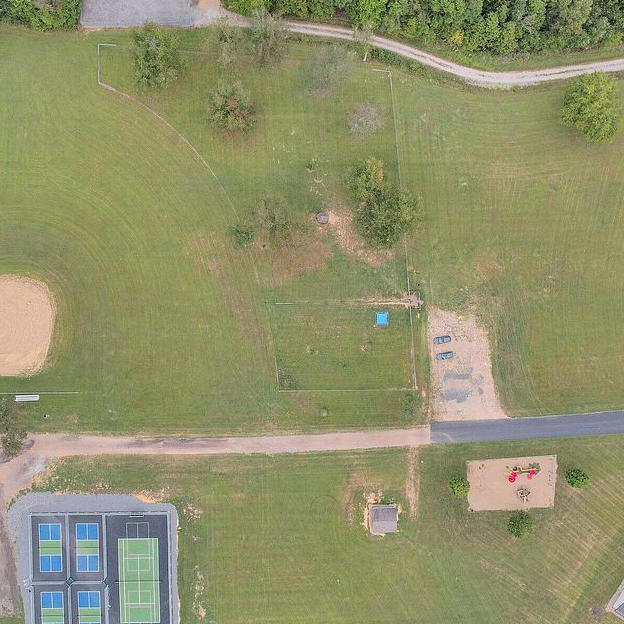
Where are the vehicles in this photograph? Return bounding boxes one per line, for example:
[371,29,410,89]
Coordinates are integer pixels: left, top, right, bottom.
[435,335,451,344]
[437,351,453,360]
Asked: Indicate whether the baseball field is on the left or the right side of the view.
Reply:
left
